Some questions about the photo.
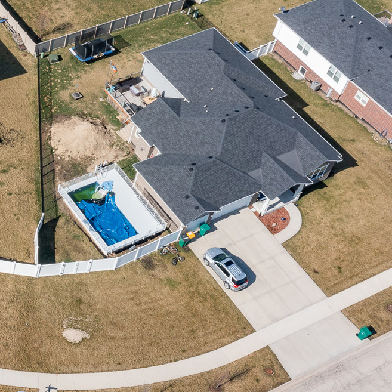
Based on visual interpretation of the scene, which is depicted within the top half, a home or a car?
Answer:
home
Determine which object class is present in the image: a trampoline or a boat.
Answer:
trampoline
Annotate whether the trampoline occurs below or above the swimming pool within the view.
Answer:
above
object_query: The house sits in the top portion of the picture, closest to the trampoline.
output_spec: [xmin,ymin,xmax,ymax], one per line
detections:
[125,27,346,244]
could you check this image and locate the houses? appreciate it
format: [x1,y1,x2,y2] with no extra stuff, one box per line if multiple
[272,0,392,149]
[125,27,346,244]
